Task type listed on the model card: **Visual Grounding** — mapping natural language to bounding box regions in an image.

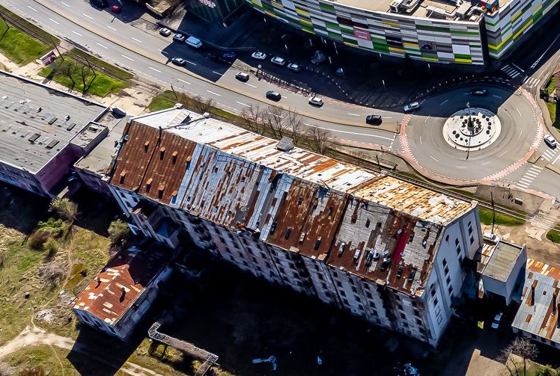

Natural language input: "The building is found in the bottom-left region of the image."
[73,241,179,341]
